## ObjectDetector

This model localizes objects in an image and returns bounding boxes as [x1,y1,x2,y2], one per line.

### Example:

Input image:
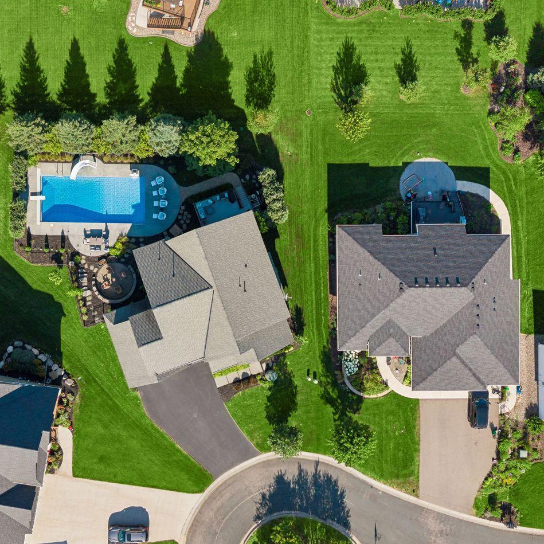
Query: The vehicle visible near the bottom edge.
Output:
[109,525,149,544]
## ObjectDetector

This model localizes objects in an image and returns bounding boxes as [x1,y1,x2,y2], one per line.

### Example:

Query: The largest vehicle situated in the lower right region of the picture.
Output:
[470,387,492,430]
